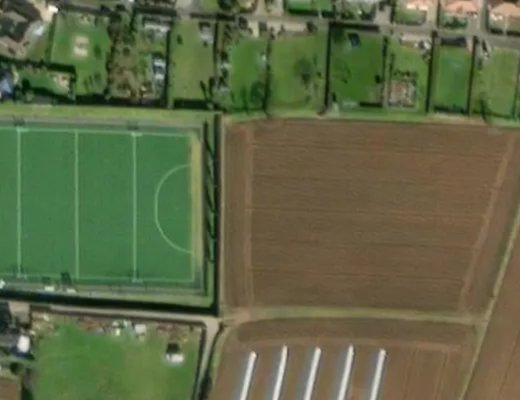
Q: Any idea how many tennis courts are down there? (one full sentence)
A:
The picture shows no tennis courts.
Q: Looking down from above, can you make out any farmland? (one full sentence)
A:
Yes, farmland can be seen from above here.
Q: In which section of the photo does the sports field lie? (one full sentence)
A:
You can find the sports field in the left area of the picture.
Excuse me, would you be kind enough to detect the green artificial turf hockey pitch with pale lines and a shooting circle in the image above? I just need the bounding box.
[0,117,204,290]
